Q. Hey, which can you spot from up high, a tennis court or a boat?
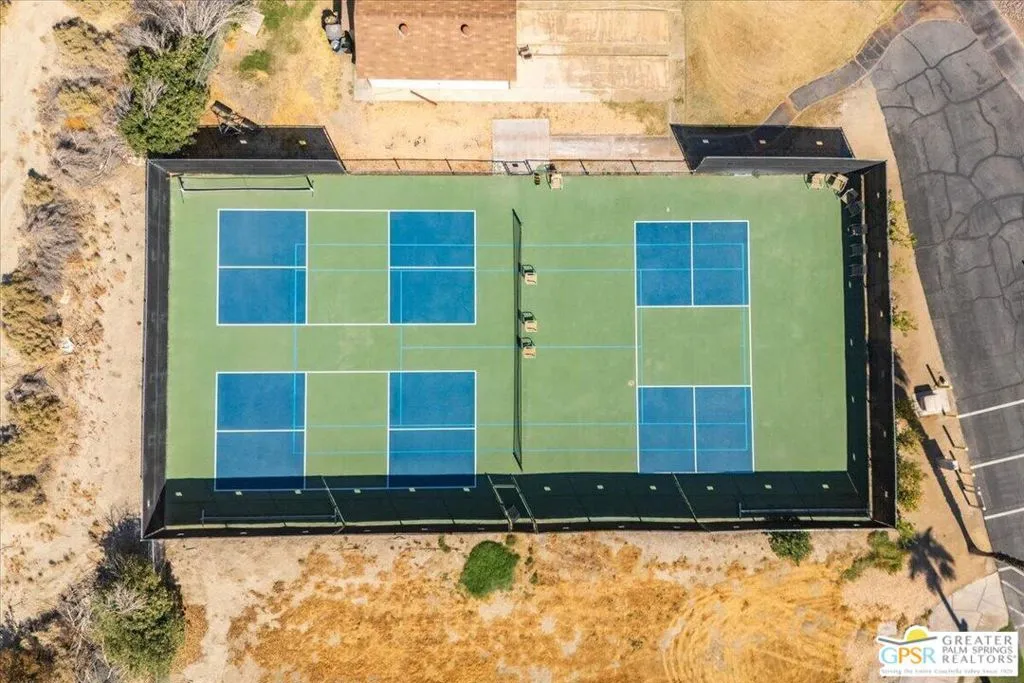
tennis court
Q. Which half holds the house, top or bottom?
top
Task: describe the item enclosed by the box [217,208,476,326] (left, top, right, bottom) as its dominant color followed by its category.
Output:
blue sports court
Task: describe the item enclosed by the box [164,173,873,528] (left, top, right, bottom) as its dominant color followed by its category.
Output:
green tennis court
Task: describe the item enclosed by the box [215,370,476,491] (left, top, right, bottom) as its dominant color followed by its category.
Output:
blue sports court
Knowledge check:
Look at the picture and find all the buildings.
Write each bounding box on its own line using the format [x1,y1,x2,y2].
[353,0,518,91]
